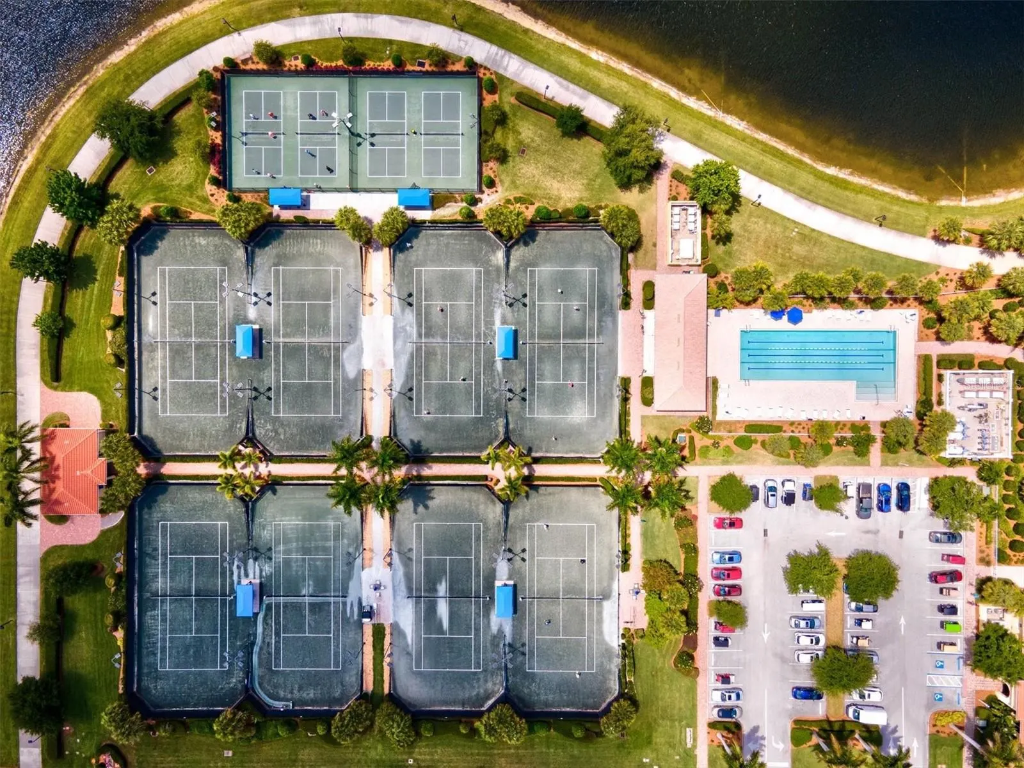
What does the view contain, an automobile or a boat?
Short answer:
automobile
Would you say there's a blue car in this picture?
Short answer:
Yes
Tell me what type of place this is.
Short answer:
sports ground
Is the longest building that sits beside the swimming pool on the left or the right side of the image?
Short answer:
right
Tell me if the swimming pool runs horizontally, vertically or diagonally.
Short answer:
horizontally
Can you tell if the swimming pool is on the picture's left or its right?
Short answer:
right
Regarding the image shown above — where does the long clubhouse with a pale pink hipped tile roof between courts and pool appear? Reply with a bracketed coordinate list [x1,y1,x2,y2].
[654,274,708,411]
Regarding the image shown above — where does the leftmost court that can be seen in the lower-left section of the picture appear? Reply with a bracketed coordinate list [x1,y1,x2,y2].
[136,487,249,709]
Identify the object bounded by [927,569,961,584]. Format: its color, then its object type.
red car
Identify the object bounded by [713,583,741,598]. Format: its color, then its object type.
red car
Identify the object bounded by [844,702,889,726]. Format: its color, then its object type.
white vehicle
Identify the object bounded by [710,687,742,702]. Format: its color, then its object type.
white car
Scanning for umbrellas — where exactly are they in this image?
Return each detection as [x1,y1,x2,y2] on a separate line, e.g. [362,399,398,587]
[786,307,802,325]
[768,308,782,322]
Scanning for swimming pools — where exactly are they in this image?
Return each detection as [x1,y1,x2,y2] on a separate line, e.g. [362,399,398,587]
[739,325,898,405]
